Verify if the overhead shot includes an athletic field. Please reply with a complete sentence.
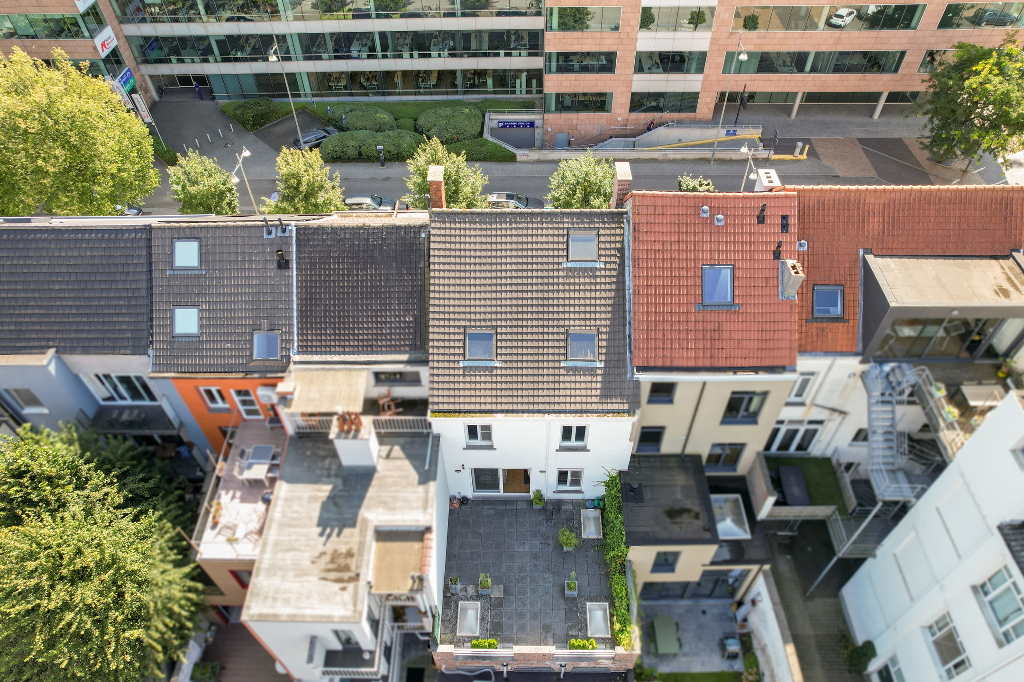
No, this view has no athletic field in it.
